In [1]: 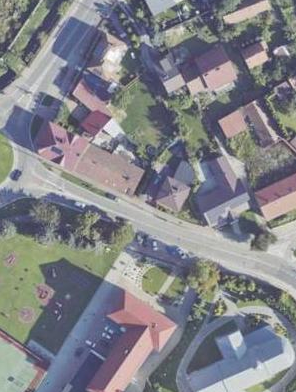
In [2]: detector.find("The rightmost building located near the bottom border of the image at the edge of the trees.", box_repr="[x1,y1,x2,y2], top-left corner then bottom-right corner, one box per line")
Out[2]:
[187,328,291,392]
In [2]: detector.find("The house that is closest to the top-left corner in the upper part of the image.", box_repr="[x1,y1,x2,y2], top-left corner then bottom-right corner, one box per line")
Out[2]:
[79,33,113,74]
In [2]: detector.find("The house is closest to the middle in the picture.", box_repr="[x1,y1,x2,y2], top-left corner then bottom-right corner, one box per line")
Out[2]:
[153,176,190,214]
